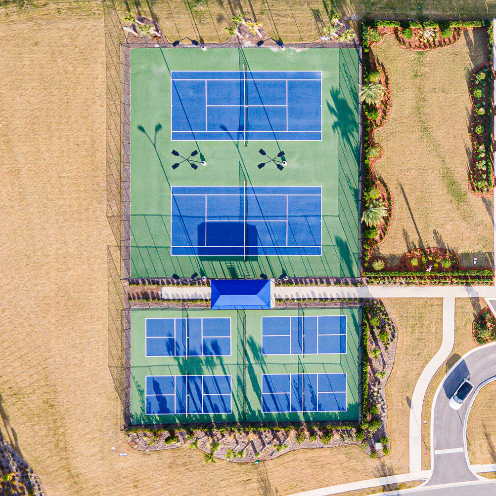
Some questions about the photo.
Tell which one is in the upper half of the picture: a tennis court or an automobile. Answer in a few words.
tennis court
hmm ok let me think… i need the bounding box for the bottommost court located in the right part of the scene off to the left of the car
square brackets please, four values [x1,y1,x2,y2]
[245,366,361,424]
